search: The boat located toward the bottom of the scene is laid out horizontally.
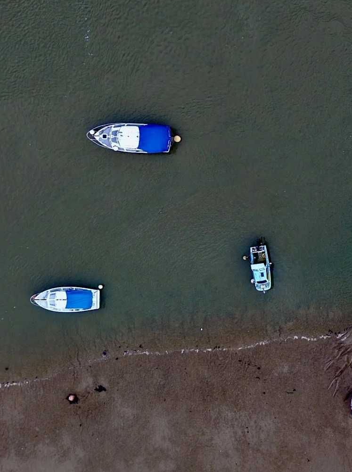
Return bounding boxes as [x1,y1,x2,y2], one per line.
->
[30,287,102,313]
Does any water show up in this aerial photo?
Yes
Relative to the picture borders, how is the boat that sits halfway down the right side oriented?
up and down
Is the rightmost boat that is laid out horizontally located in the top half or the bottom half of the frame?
top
